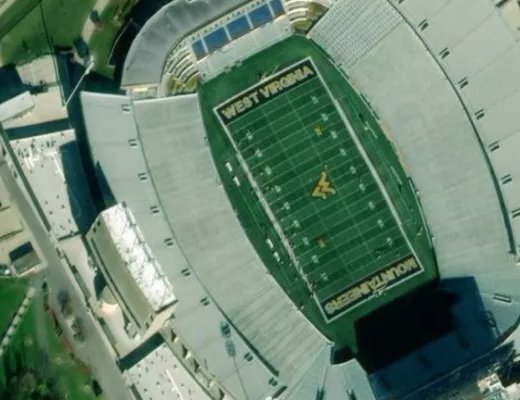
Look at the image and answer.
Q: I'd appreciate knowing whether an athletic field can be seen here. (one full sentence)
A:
Yes, the frame does contain an athletic field.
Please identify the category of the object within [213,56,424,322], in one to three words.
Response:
sports field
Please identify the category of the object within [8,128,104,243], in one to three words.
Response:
building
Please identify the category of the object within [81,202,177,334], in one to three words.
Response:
building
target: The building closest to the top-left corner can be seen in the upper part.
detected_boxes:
[0,90,35,125]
